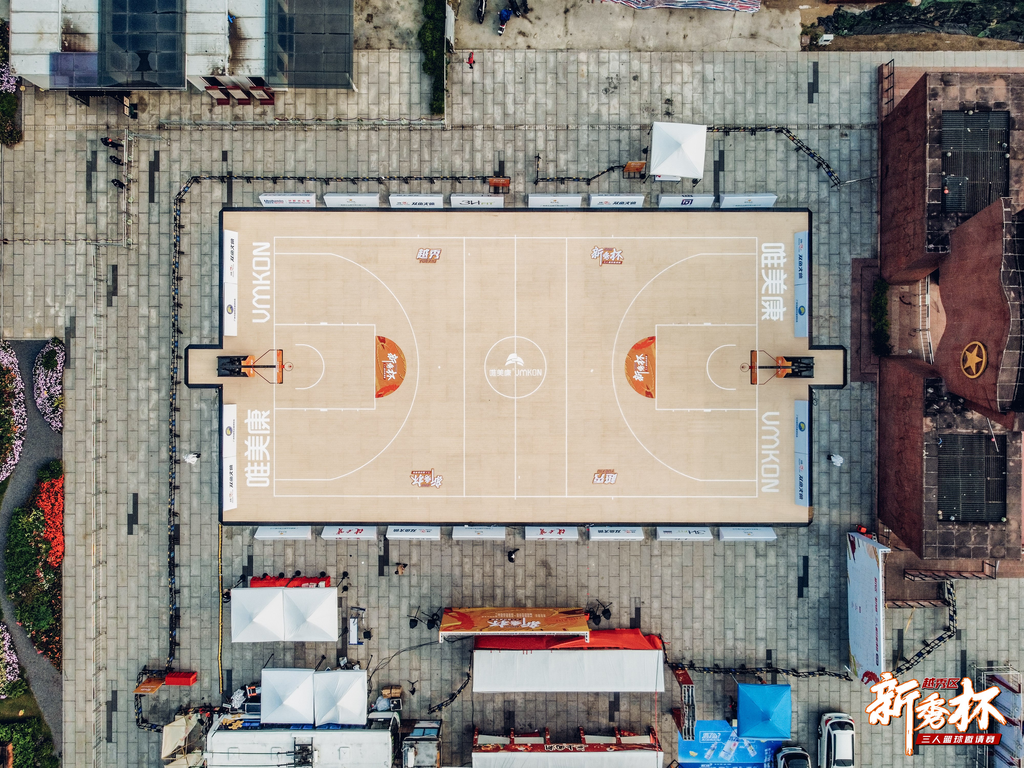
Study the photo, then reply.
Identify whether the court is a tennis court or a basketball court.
basketball court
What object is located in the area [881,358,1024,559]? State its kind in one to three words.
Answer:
building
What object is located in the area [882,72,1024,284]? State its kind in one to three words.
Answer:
building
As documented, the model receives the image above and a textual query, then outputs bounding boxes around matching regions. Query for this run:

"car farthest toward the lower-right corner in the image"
[818,712,860,768]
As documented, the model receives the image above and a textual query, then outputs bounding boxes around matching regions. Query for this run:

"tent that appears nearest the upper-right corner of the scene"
[643,122,707,187]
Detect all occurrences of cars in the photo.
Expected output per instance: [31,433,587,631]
[775,743,811,768]
[818,712,860,768]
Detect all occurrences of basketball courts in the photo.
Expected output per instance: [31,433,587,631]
[184,207,847,526]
